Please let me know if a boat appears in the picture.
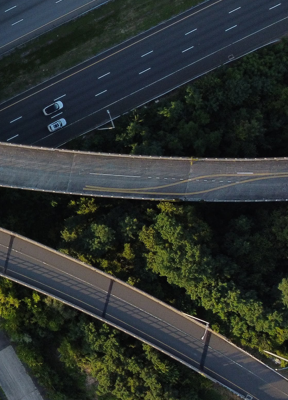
No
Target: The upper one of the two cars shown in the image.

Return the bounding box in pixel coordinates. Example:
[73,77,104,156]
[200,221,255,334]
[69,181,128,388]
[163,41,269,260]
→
[42,101,63,114]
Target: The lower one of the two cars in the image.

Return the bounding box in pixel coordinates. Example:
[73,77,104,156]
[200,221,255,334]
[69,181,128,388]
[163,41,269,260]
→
[46,118,67,132]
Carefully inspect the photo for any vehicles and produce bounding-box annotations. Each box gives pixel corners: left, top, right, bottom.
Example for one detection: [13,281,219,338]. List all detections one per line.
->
[42,101,63,114]
[46,118,67,132]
